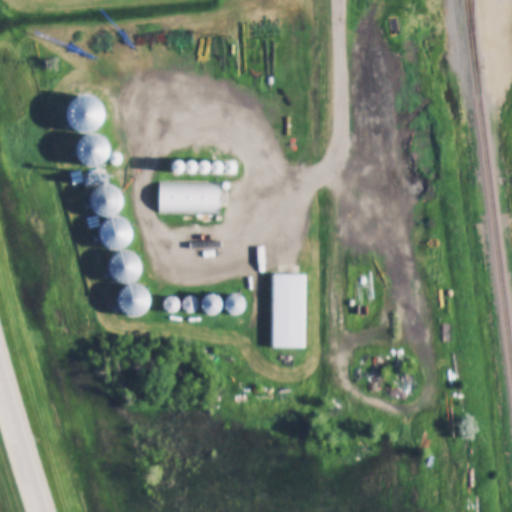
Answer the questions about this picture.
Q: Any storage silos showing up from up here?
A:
Yes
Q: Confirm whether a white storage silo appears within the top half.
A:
Yes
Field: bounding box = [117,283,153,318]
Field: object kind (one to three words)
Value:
silo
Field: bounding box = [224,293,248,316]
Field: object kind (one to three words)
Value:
silo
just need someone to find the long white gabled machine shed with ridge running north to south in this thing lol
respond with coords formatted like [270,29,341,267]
[272,273,308,349]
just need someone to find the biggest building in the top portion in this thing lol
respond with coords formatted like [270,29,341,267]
[158,181,220,213]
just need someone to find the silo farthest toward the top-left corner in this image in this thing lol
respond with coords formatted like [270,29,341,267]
[66,92,106,133]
